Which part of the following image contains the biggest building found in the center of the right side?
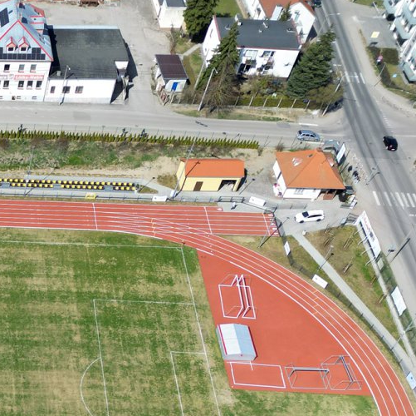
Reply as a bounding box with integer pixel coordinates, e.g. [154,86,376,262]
[273,139,349,206]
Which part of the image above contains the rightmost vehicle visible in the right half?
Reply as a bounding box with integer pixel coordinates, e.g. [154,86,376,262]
[383,132,401,148]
